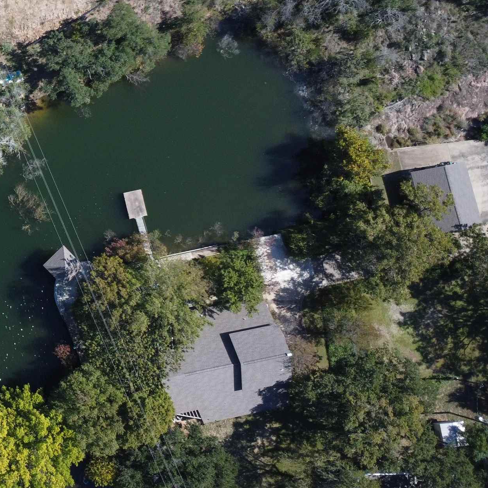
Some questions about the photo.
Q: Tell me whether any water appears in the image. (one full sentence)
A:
Yes, there is water in the image.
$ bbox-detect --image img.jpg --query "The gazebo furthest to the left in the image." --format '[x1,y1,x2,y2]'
[42,246,81,281]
